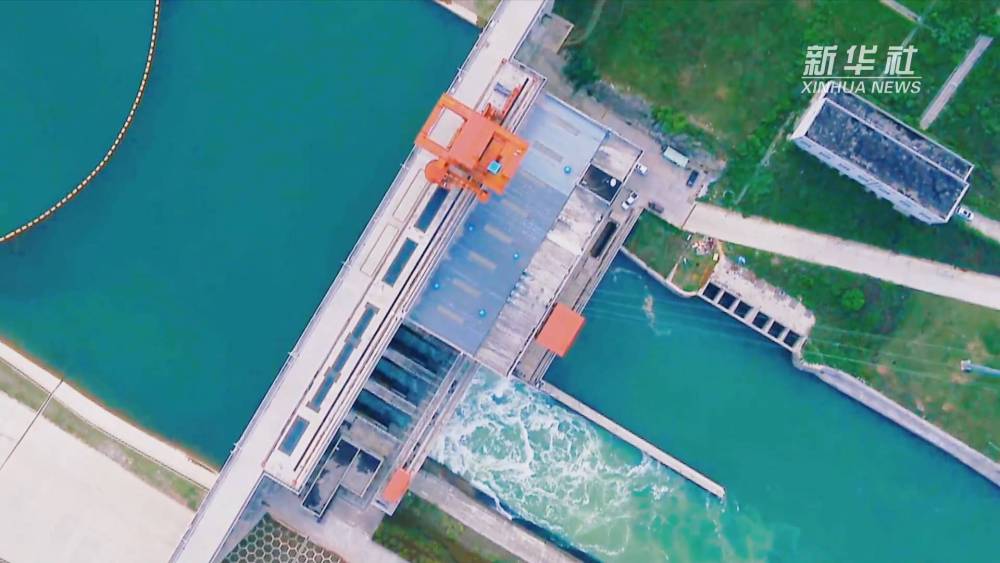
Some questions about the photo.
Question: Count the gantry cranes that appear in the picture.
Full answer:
The photo contains exactly 1 gantry crane.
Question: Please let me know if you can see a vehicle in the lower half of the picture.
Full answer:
No, no vehicle appears in the lower half of the picture.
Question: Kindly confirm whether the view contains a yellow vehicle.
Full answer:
No, there is no yellow vehicle in the image.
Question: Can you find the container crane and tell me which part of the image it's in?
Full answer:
The container crane is located in the top region of the scene.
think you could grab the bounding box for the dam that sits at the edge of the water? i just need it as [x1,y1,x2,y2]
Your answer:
[167,0,555,563]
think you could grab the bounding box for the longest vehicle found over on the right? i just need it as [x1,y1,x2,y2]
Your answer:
[661,146,692,168]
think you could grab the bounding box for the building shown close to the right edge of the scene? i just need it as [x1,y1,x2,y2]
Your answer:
[792,85,981,224]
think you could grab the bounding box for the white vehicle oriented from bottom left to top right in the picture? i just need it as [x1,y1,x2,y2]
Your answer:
[621,192,638,209]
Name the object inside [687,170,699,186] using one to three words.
vehicle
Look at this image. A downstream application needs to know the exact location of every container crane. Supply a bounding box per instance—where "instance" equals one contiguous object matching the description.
[415,94,529,210]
